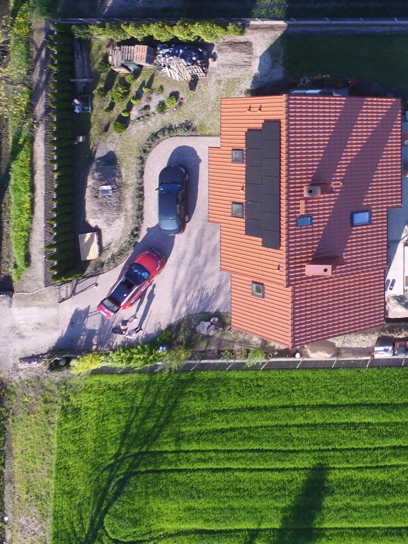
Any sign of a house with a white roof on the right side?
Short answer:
No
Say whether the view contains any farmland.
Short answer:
Yes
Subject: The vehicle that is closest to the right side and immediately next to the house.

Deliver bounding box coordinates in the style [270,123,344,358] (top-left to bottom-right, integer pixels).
[150,164,188,236]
